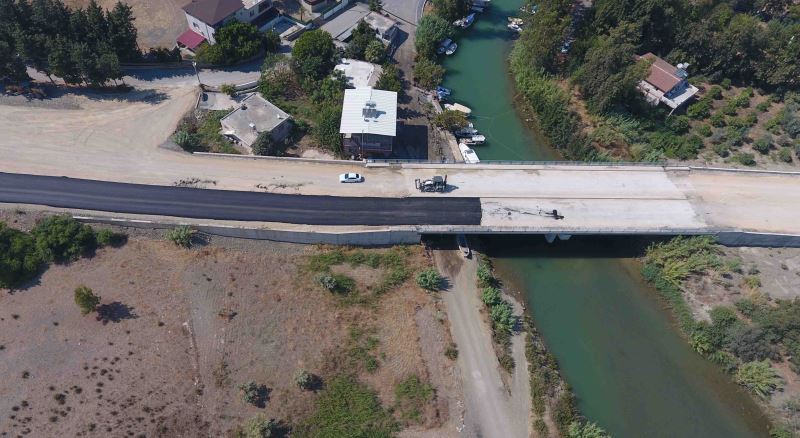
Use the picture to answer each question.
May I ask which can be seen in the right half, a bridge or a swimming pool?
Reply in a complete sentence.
Looking in the right half, you will find a bridge.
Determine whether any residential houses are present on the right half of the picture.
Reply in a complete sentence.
Yes, you'll find a residential house on the right half of the picture.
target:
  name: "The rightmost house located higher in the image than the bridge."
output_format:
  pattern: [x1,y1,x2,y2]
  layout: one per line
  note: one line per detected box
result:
[630,55,699,117]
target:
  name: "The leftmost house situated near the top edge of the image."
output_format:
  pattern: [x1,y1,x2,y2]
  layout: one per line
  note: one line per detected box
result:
[177,0,248,56]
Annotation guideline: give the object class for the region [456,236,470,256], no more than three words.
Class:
car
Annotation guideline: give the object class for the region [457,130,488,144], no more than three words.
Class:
boat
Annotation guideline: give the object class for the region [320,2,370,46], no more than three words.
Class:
shed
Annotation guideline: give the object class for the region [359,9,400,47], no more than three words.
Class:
house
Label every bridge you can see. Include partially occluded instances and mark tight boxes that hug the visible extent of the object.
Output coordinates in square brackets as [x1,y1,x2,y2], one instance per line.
[362,160,715,245]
